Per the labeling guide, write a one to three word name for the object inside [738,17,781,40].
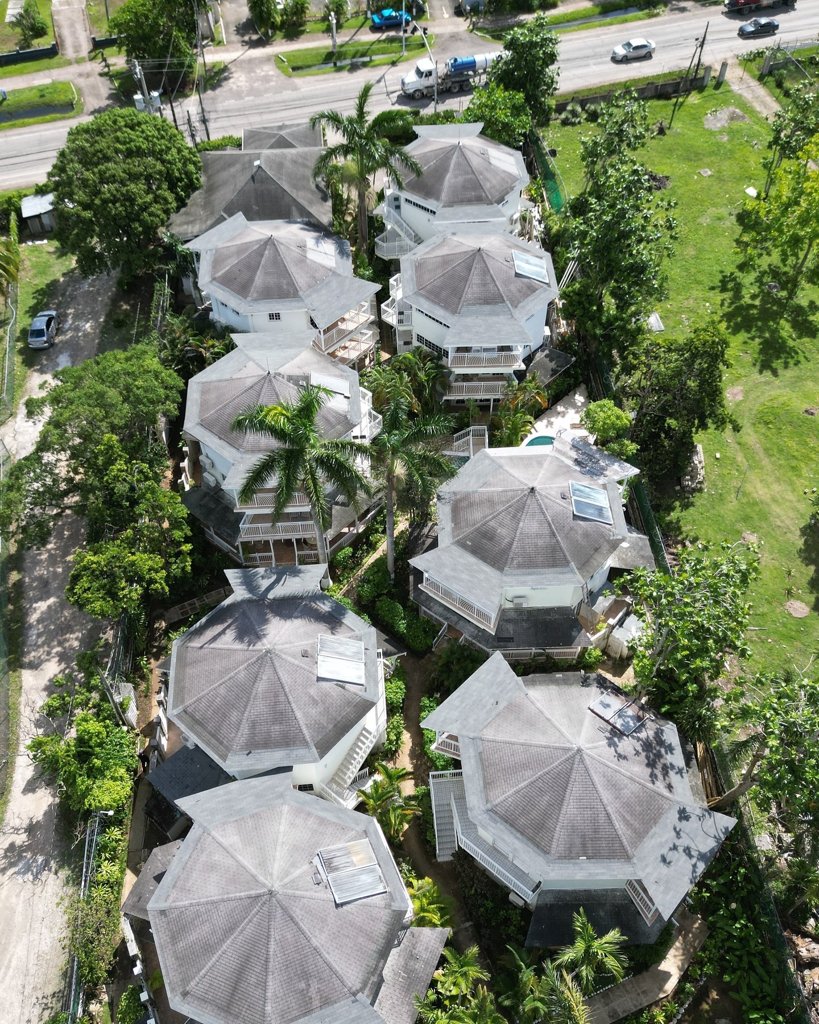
car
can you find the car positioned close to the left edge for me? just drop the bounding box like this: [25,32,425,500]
[25,310,59,351]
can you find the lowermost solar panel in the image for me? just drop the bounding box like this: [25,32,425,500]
[316,838,389,908]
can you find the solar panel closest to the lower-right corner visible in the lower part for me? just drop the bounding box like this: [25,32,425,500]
[587,689,650,737]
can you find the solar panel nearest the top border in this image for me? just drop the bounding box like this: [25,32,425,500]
[511,251,549,285]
